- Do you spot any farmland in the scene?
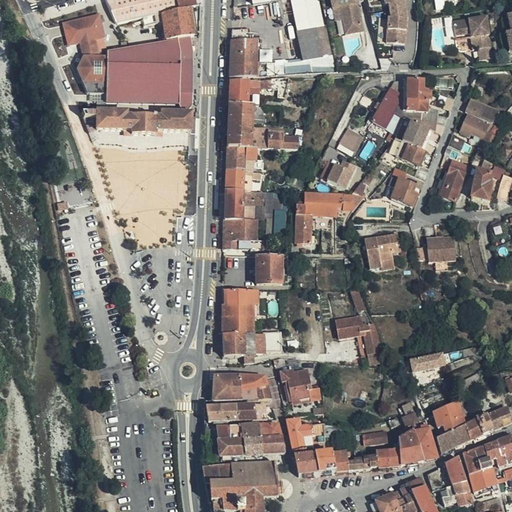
No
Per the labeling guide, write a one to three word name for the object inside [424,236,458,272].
house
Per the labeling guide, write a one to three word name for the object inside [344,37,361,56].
swimming pool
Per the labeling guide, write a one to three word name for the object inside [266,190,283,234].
building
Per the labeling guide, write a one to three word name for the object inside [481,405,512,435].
house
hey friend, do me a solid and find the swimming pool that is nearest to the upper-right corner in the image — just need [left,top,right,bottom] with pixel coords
[432,27,444,52]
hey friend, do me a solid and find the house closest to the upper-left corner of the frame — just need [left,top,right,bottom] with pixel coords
[62,13,104,55]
